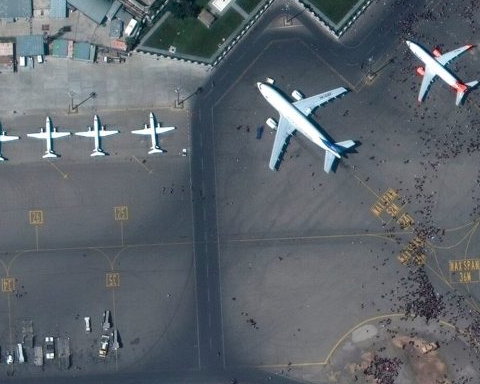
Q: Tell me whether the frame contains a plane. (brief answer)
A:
Yes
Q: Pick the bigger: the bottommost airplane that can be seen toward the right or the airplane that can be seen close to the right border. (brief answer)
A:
the bottommost airplane that can be seen toward the right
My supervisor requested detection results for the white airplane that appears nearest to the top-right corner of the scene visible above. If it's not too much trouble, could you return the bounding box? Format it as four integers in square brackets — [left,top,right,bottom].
[406,42,477,103]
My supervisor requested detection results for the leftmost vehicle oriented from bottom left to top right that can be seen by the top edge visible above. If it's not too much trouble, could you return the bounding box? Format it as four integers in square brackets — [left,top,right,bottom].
[124,19,137,34]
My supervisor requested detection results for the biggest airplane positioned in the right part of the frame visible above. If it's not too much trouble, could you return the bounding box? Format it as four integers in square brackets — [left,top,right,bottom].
[258,83,351,170]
